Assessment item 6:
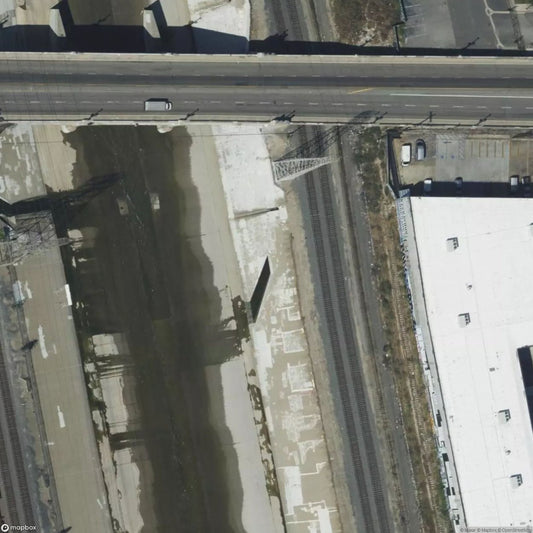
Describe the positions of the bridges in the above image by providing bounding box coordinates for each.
[0,7,533,135]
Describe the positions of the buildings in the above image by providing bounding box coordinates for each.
[395,196,533,533]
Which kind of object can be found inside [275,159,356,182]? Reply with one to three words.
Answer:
pylon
